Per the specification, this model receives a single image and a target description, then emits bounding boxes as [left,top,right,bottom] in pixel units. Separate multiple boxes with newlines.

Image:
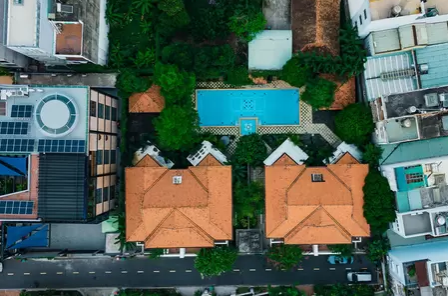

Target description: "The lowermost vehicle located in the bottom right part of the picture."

[347,269,374,283]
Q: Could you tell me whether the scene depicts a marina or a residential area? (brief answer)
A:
residential area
